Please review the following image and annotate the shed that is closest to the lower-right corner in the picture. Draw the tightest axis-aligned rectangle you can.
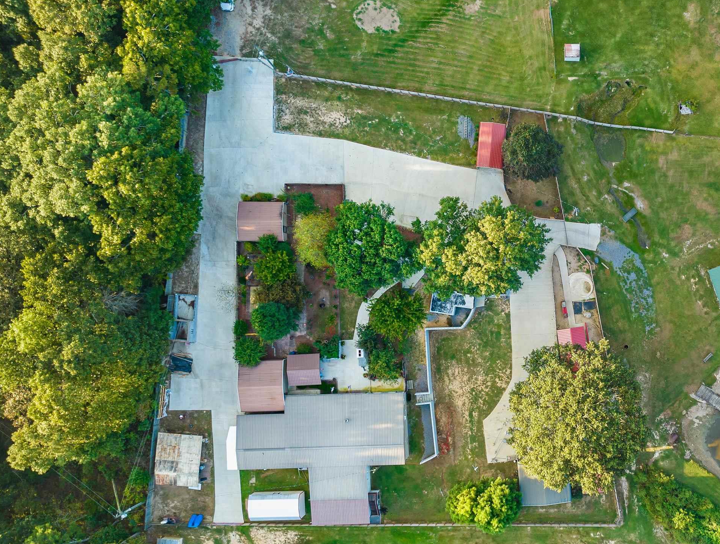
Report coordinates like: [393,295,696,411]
[517,460,571,507]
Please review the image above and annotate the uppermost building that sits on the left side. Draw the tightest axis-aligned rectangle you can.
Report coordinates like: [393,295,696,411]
[236,201,288,241]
